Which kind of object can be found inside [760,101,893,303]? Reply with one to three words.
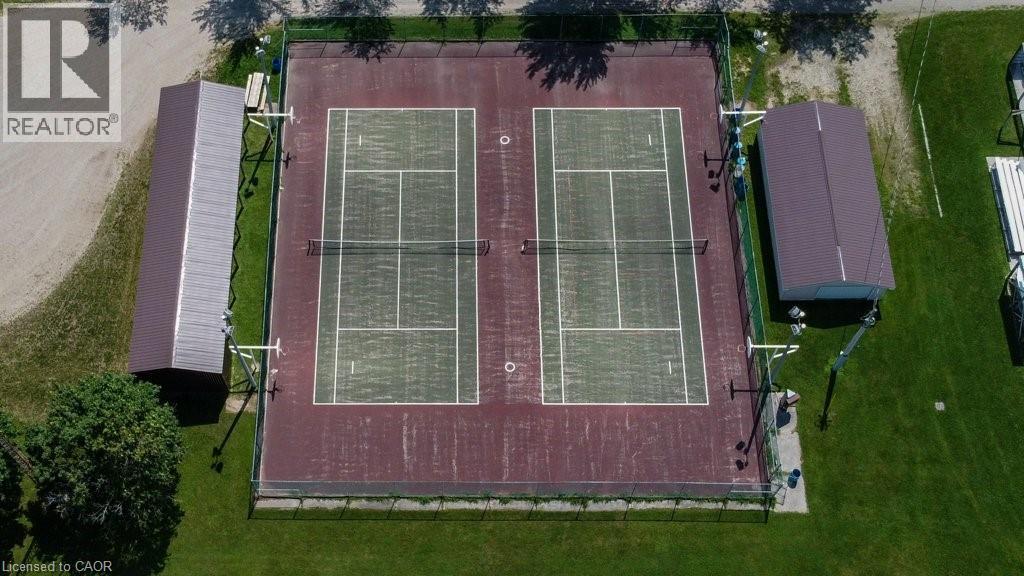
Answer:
shed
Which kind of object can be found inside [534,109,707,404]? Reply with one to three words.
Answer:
tennis court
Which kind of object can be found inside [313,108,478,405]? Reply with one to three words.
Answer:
tennis court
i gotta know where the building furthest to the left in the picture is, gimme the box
[126,80,250,392]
